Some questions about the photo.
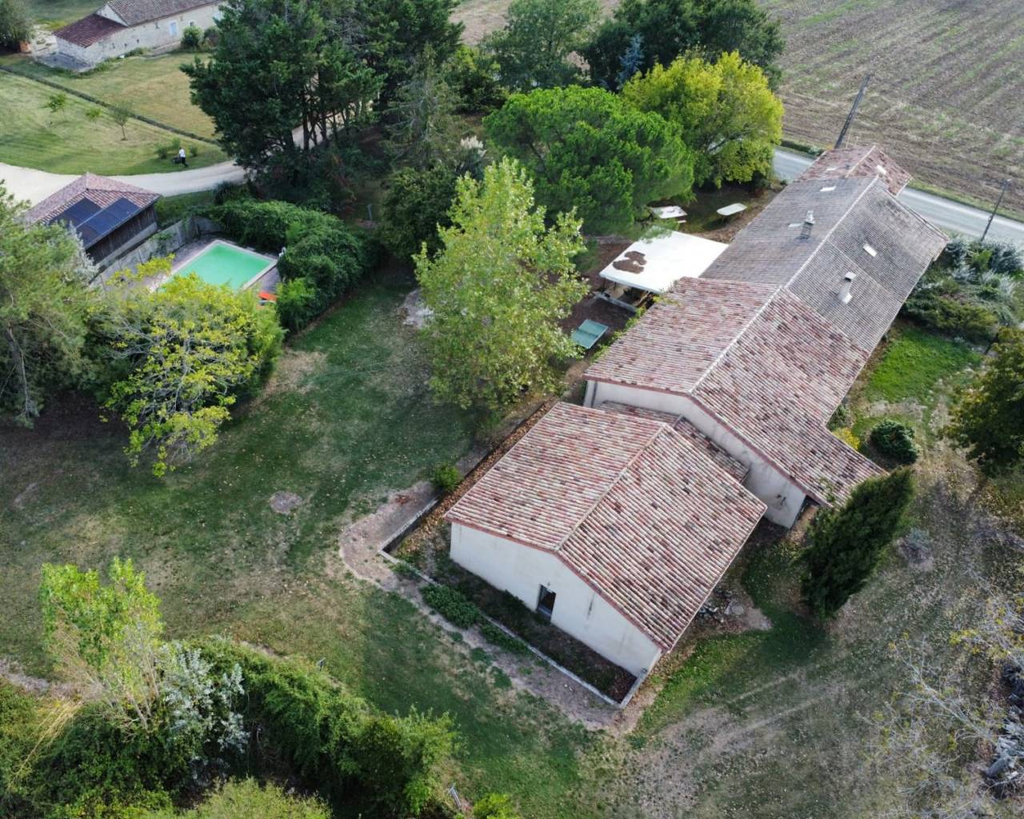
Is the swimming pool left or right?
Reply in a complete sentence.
It is on the left.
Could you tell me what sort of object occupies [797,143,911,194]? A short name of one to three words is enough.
house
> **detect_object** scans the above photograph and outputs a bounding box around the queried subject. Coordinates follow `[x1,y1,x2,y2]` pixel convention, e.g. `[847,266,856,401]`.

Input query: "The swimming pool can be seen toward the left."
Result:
[85,233,301,367]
